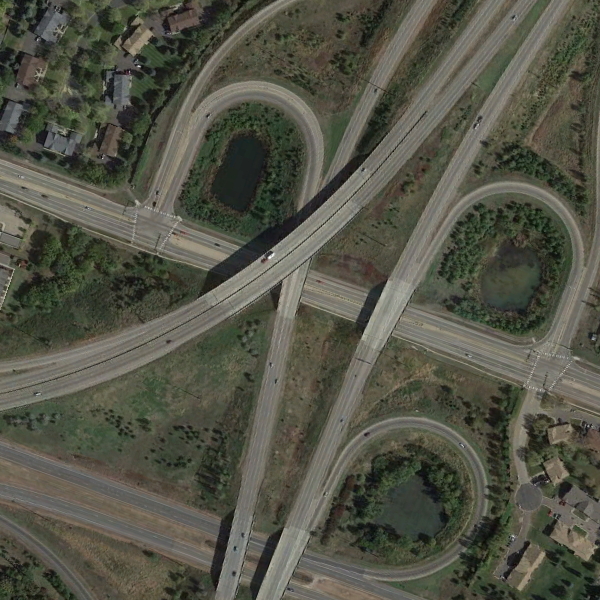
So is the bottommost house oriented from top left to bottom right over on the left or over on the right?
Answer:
right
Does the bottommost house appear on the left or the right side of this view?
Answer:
right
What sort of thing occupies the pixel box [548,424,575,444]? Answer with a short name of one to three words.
house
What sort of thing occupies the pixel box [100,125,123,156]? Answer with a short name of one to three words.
house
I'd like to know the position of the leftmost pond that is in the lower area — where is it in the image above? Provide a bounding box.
[374,471,448,543]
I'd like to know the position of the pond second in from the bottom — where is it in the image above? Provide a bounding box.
[480,241,544,317]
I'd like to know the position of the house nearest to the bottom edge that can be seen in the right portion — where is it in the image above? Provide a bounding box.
[507,543,546,589]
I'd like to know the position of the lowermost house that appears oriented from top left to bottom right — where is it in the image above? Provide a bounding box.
[550,519,598,560]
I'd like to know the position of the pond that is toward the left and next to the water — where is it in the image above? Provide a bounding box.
[207,129,271,213]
